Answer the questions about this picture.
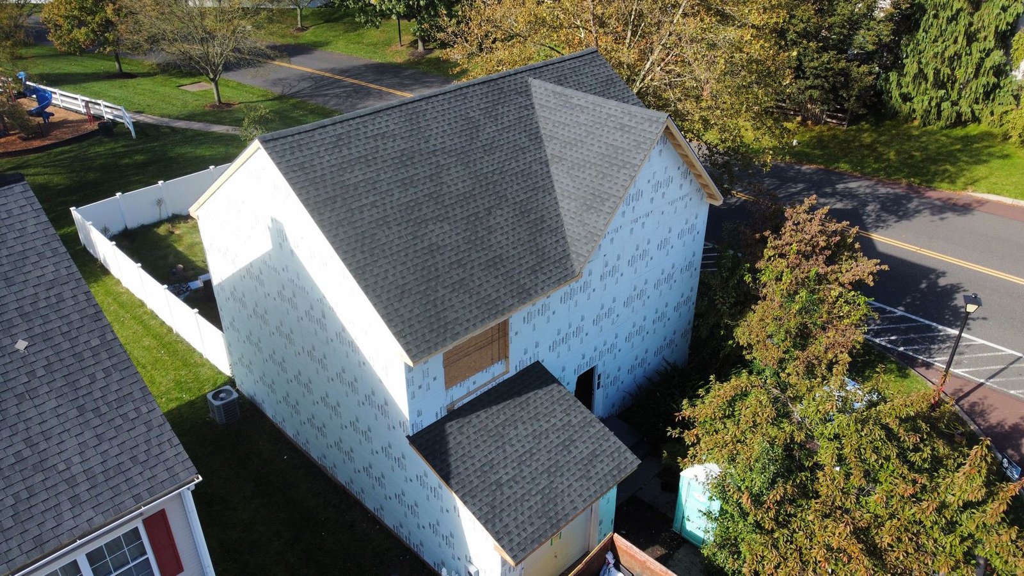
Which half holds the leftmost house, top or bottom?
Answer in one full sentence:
You can find the leftmost house in the bottom half.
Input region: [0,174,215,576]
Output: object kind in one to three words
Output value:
house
